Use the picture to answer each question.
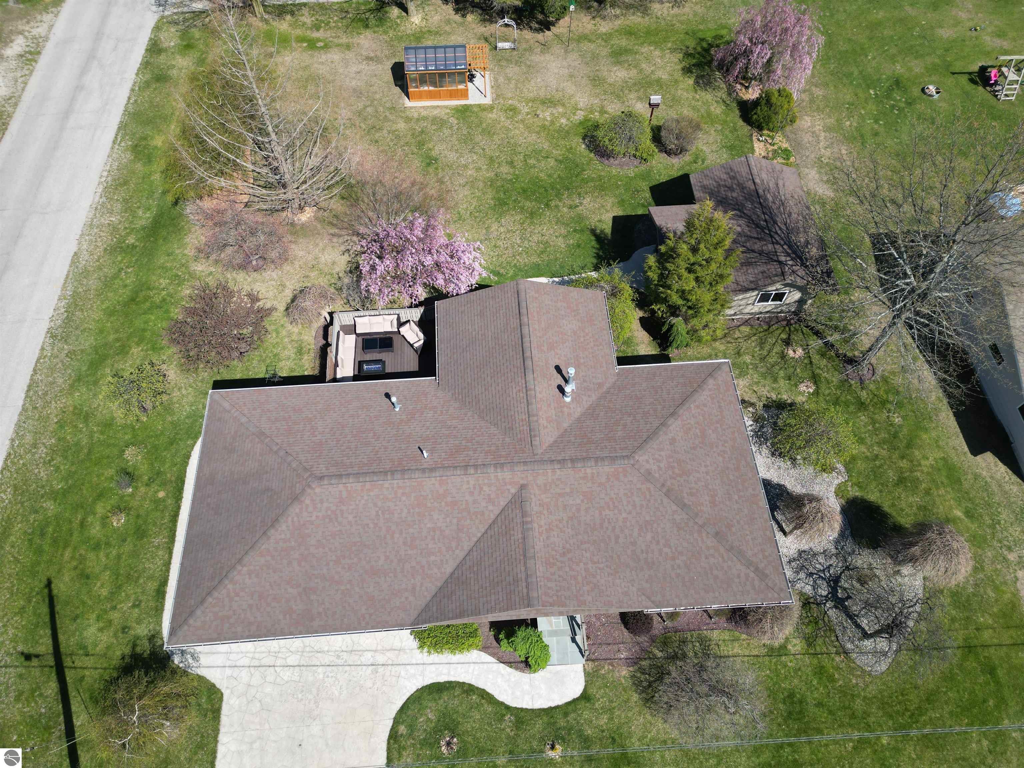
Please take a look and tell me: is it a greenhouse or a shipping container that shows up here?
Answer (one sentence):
It is a greenhouse that can be seen here.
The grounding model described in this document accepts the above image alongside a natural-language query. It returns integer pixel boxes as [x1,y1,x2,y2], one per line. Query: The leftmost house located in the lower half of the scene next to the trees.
[160,276,799,651]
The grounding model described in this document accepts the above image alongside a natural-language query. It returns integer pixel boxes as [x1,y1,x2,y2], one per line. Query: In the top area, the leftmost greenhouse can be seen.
[403,42,490,101]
